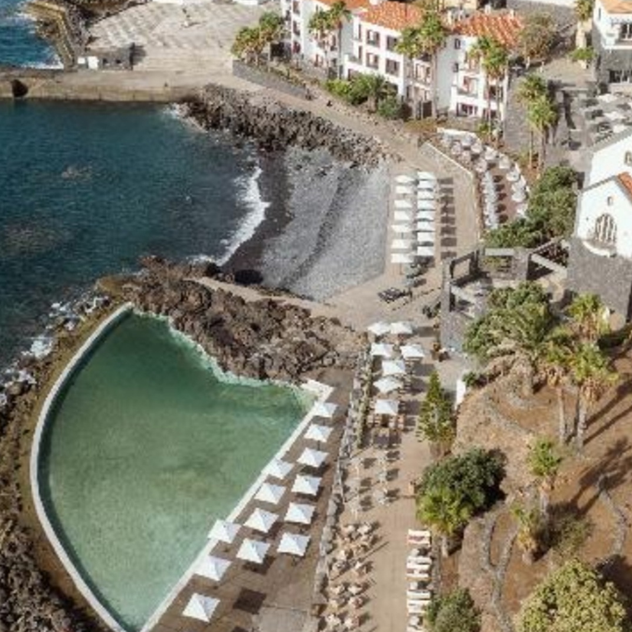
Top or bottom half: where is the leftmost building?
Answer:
top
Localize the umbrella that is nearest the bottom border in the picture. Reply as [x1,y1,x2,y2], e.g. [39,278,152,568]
[180,594,220,632]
